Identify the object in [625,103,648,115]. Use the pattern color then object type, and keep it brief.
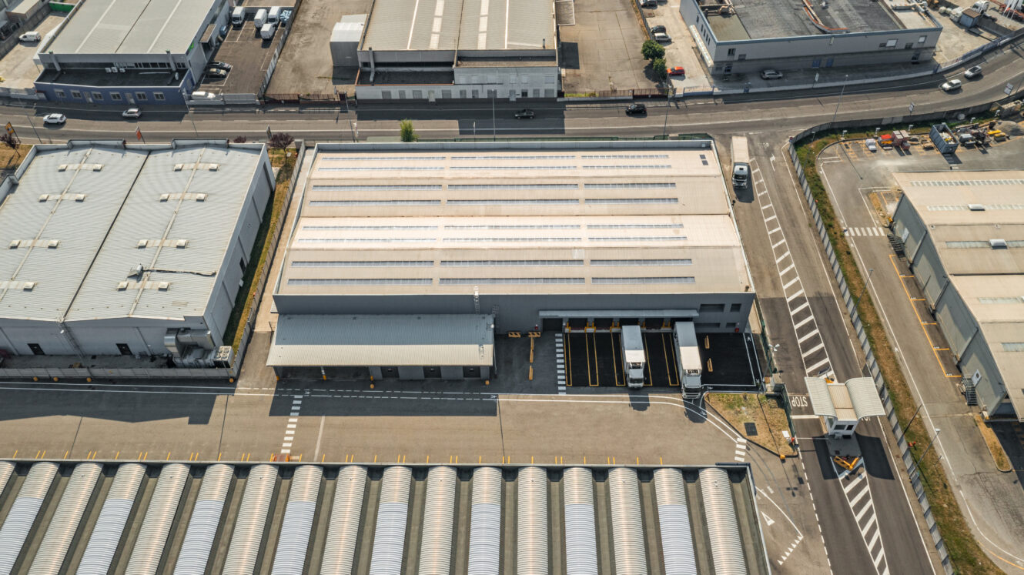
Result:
black vehicle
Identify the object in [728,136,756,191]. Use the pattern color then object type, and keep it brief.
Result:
white truck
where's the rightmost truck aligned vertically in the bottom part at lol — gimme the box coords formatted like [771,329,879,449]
[671,322,704,403]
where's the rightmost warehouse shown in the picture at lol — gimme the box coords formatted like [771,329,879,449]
[889,172,1024,422]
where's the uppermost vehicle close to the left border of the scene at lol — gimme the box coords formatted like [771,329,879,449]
[19,30,42,42]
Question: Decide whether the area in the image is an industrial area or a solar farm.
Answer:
industrial area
